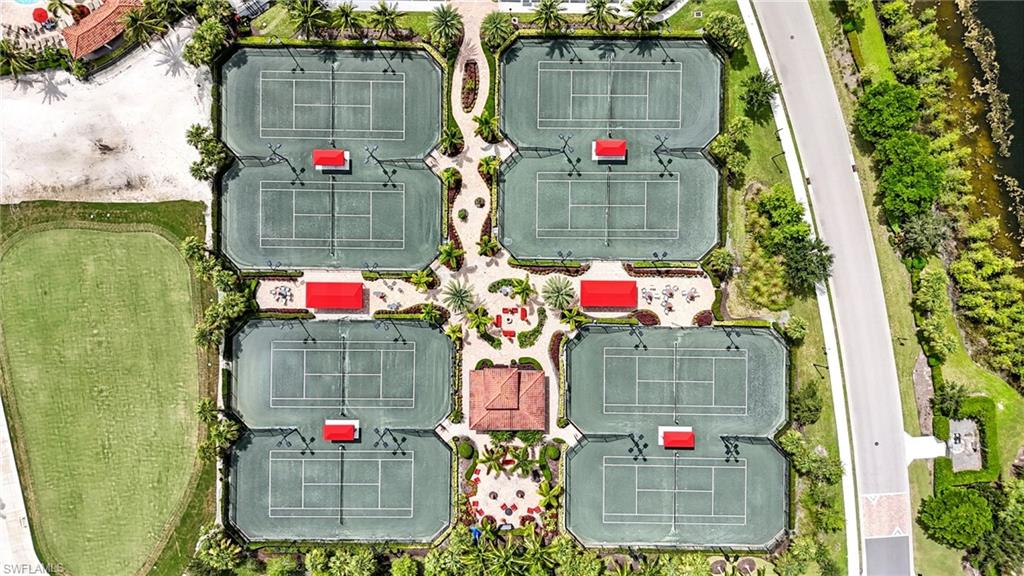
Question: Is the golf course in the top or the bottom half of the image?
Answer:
bottom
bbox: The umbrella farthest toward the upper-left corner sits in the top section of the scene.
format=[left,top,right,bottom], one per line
[34,8,52,24]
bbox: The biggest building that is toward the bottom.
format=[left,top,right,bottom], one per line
[469,368,545,430]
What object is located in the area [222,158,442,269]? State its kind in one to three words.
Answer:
tennis court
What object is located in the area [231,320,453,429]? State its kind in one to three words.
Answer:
tennis court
